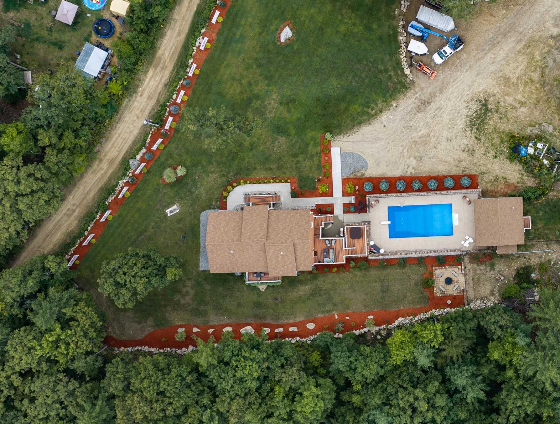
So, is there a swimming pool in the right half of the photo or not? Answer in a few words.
Yes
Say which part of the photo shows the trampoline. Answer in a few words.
top left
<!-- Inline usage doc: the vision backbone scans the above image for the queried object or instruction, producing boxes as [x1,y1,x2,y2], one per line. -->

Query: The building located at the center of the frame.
[204,194,311,283]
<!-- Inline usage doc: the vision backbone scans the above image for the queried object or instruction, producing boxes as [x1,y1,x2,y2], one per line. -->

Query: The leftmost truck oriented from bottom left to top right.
[433,34,465,63]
